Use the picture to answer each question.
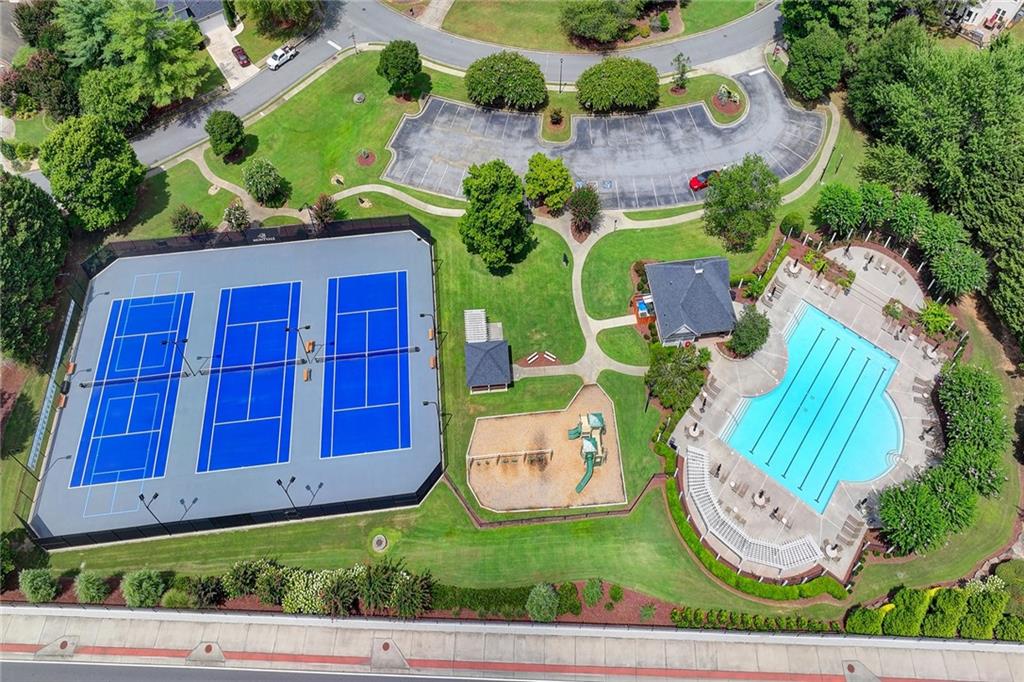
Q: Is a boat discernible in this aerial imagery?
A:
No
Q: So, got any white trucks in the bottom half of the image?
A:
No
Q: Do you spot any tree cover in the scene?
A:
Yes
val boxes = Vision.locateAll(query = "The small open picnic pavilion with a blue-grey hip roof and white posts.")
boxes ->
[465,339,511,398]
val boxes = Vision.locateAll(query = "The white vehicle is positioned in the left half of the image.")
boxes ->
[266,45,300,69]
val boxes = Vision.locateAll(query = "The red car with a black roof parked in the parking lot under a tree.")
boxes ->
[690,170,721,189]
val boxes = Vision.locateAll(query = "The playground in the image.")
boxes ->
[466,382,628,513]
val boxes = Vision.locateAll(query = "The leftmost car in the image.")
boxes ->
[232,46,251,67]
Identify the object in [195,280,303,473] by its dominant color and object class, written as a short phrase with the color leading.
blue tennis court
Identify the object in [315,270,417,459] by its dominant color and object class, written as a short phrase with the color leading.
blue tennis court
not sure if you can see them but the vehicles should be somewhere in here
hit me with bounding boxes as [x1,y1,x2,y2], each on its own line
[232,46,251,67]
[266,45,300,69]
[690,170,721,189]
